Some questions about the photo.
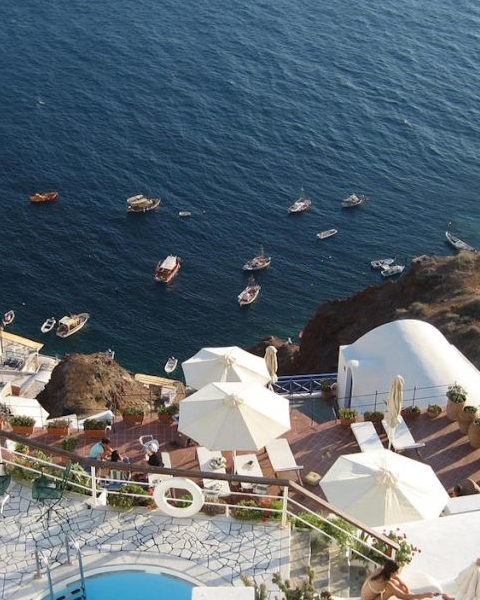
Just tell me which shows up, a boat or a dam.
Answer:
boat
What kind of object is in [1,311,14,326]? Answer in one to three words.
boat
